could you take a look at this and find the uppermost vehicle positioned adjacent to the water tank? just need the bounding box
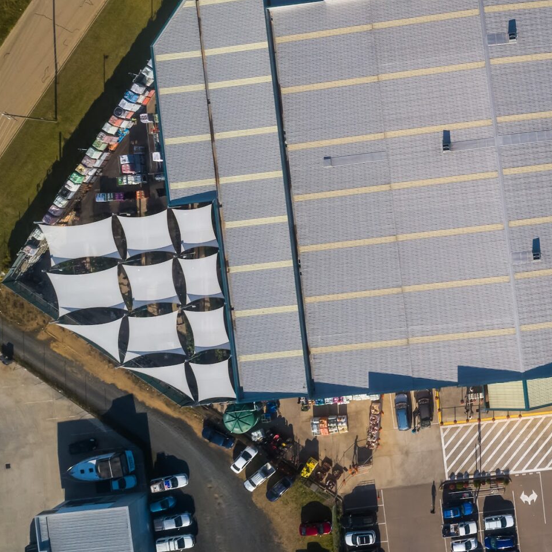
[197,423,239,452]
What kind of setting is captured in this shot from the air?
industrial area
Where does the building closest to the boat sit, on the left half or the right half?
left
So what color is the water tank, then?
green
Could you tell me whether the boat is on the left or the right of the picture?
left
